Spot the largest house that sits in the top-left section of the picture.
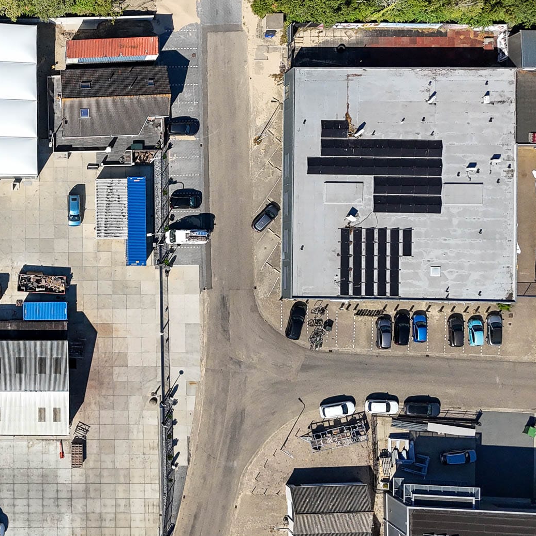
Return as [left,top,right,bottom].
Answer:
[61,66,173,138]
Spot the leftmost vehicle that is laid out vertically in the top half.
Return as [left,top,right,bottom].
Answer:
[65,193,82,227]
